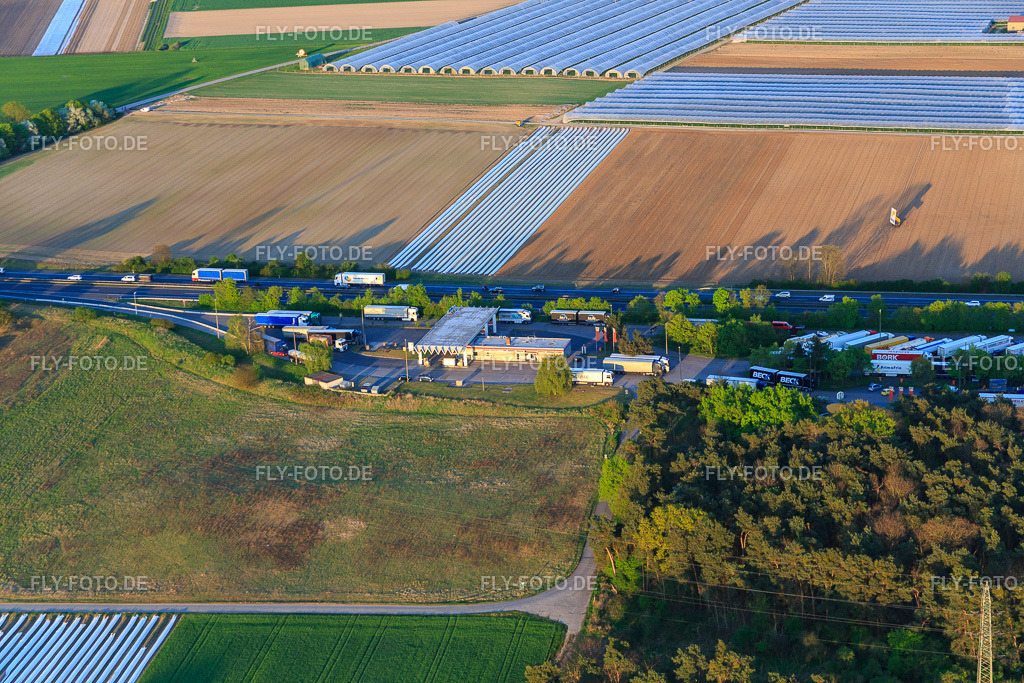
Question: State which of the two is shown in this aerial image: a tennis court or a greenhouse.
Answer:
greenhouse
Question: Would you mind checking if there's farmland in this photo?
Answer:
Yes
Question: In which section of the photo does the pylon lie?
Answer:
bottom right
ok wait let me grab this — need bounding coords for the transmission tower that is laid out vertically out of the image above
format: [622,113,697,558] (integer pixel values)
[964,580,1009,683]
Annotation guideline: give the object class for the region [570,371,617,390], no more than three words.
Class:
vehicle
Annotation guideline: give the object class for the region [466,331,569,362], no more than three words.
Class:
building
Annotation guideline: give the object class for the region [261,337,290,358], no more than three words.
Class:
truck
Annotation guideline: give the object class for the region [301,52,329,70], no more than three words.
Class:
barn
